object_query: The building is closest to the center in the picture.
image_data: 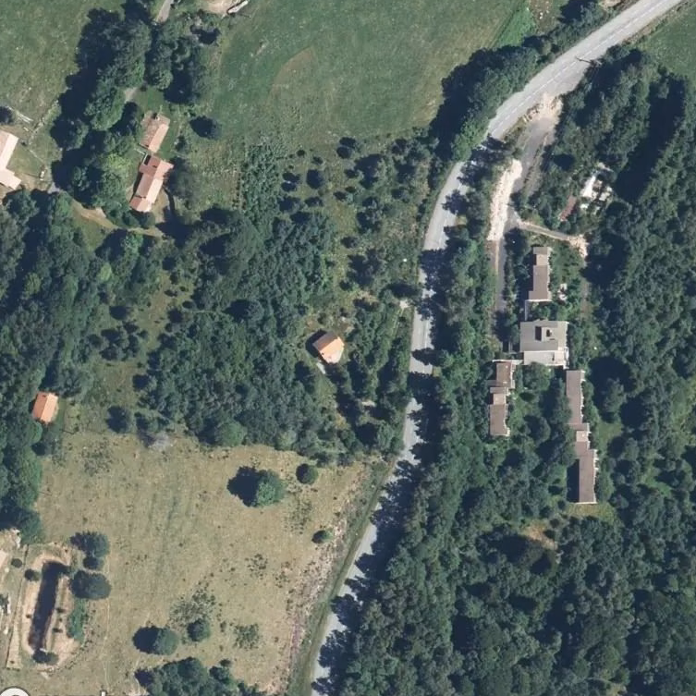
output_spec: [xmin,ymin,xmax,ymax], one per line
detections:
[313,331,344,363]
